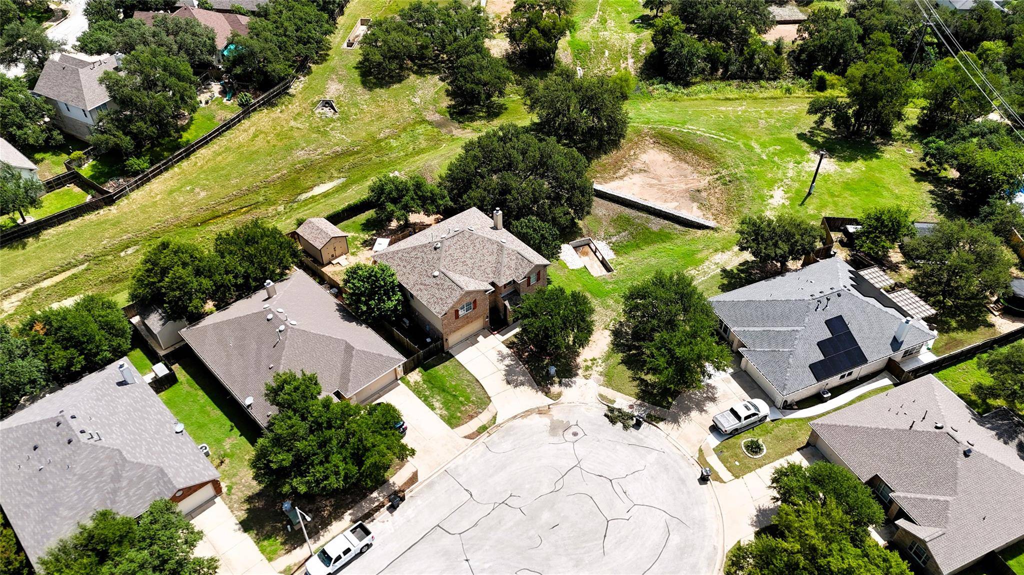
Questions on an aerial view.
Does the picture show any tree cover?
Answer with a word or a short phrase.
Yes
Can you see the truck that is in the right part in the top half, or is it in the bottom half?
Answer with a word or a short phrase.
bottom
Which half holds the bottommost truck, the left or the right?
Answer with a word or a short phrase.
left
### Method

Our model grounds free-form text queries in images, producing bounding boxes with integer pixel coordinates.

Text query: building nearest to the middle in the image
[372,206,552,349]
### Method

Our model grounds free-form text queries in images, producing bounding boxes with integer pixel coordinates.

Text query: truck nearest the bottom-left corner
[304,522,373,575]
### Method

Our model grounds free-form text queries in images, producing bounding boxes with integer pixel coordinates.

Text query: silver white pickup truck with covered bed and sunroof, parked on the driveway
[711,401,771,435]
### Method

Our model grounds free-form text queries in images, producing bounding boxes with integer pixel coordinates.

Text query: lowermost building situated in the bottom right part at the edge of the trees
[805,373,1024,575]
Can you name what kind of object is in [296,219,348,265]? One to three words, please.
shed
